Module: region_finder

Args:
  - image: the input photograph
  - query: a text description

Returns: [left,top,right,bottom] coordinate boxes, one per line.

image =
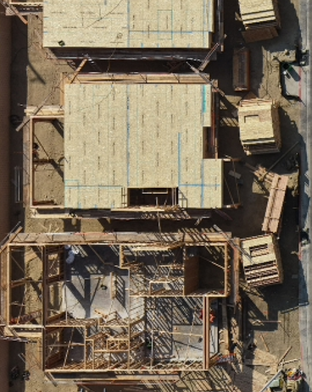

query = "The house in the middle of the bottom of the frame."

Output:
[7,239,241,371]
